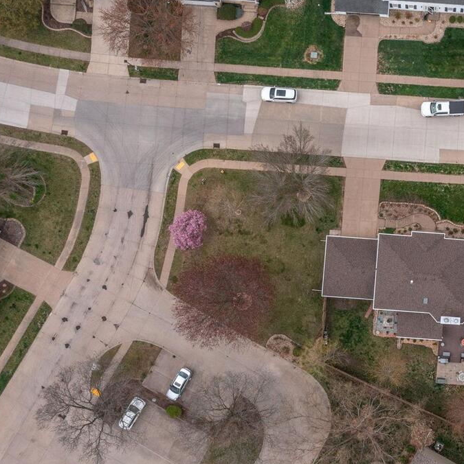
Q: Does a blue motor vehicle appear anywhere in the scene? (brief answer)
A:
No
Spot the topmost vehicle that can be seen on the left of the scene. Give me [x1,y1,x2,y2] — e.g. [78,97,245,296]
[168,366,192,401]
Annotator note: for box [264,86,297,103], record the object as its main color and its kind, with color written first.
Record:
white car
